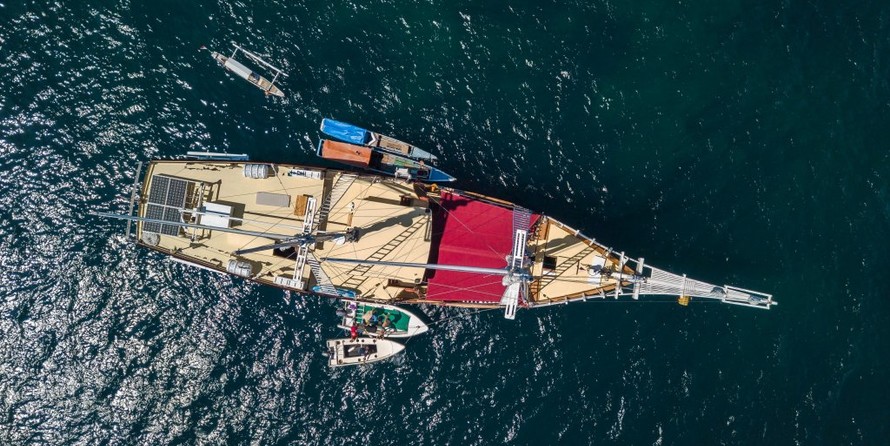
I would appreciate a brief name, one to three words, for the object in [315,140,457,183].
boat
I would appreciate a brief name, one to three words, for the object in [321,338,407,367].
boat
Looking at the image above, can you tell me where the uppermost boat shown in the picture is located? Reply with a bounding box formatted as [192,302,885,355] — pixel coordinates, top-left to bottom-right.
[203,43,289,97]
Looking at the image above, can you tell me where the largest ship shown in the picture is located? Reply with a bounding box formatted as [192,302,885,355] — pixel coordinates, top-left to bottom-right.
[89,158,778,320]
